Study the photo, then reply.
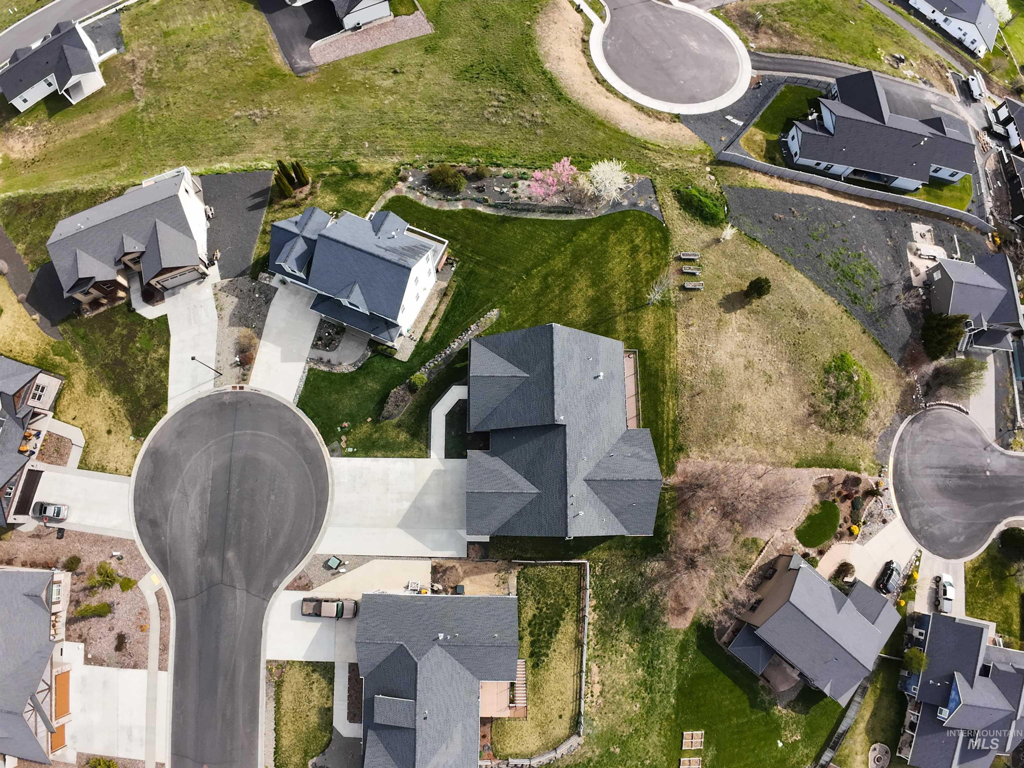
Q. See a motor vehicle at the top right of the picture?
Yes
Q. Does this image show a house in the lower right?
Yes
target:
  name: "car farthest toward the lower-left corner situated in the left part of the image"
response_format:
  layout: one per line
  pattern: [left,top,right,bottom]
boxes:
[26,504,67,522]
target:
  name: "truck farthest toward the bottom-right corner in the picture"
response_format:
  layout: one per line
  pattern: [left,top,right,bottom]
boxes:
[936,574,958,615]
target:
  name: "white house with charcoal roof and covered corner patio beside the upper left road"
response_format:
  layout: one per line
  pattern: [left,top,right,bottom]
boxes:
[0,15,107,111]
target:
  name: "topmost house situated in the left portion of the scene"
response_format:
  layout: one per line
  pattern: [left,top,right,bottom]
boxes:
[336,0,394,30]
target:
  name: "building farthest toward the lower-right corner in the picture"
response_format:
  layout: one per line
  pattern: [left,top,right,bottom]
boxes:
[894,612,1024,768]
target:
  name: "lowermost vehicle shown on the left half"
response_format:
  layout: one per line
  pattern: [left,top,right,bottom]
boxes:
[298,599,357,622]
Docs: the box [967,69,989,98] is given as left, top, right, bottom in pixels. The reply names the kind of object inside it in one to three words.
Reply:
vehicle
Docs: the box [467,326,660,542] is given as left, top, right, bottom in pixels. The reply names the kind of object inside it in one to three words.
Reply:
house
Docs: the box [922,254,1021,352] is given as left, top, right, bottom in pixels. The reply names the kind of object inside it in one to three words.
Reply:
house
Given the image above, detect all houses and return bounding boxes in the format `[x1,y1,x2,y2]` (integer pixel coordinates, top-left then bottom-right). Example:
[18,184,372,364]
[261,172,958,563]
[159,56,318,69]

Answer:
[0,15,107,111]
[268,202,448,349]
[894,612,1024,768]
[355,592,527,768]
[990,93,1024,146]
[994,154,1024,212]
[722,563,905,709]
[467,326,660,542]
[0,353,65,529]
[922,254,1021,352]
[336,0,394,30]
[0,570,78,767]
[792,66,983,190]
[46,164,206,303]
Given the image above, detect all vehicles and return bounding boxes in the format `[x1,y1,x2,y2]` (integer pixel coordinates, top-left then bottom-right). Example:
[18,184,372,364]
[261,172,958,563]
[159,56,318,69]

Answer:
[26,504,67,522]
[967,69,989,98]
[877,558,902,596]
[936,574,958,615]
[298,599,357,622]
